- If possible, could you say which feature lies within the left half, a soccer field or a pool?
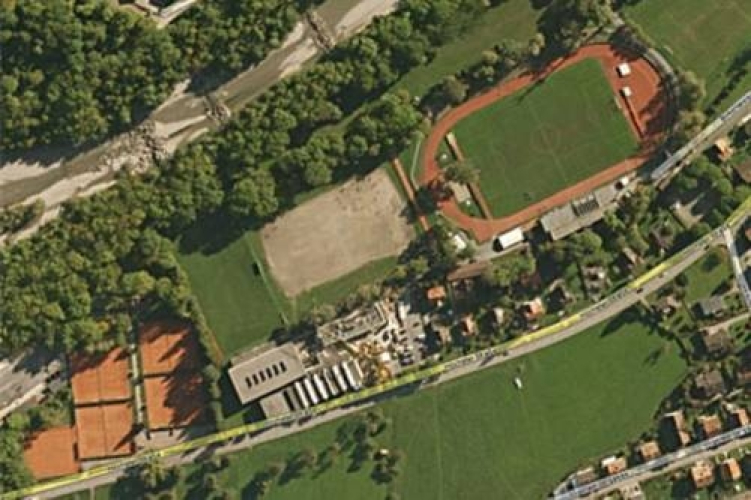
soccer field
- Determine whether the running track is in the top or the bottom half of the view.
top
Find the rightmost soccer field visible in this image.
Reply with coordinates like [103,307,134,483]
[622,0,751,122]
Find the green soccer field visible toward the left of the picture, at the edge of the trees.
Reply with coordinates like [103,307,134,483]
[171,224,291,362]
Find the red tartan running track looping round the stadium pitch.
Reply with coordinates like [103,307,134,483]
[417,44,664,243]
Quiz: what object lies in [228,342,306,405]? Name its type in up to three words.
building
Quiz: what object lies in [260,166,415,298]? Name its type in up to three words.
sports field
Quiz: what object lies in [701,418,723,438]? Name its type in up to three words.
house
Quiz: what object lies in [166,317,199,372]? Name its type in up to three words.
tennis court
